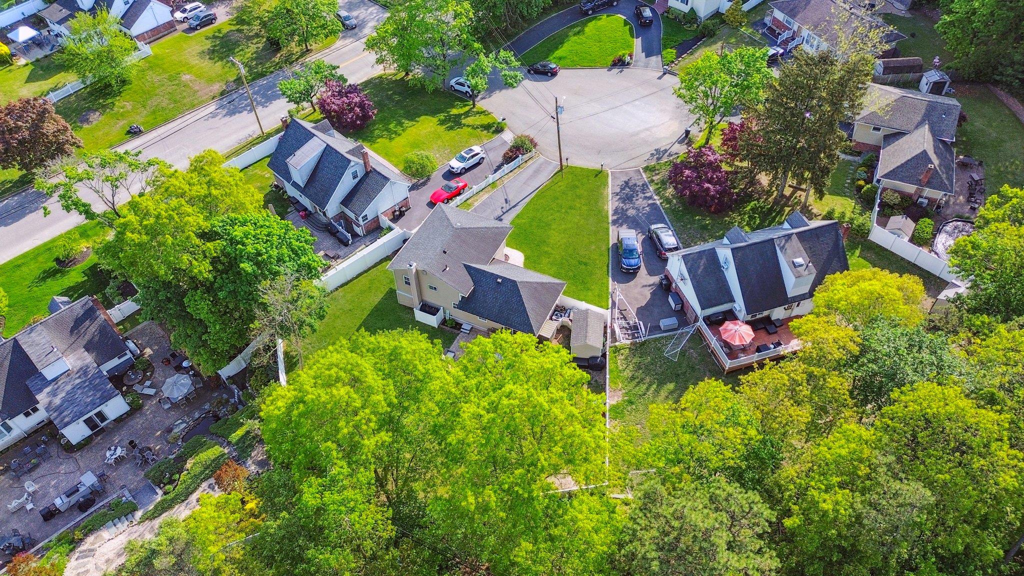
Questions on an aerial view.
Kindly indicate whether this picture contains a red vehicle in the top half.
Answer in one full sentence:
Yes, a red vehicle is visible in the top half.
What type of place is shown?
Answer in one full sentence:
This looks like a residential area.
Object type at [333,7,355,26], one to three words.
car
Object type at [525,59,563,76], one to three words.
car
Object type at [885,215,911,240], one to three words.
shed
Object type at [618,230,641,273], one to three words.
truck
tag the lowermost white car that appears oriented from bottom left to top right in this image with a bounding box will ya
[447,141,489,172]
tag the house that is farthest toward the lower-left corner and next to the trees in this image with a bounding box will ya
[0,285,142,450]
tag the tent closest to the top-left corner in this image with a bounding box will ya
[0,23,40,54]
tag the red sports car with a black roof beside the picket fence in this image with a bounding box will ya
[429,175,468,204]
